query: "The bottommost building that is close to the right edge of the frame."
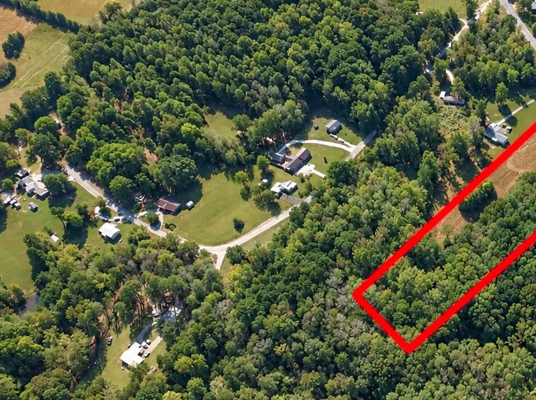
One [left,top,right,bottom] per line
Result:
[484,125,510,145]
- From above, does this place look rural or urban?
rural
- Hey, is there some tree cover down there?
Yes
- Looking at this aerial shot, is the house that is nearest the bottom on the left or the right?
left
